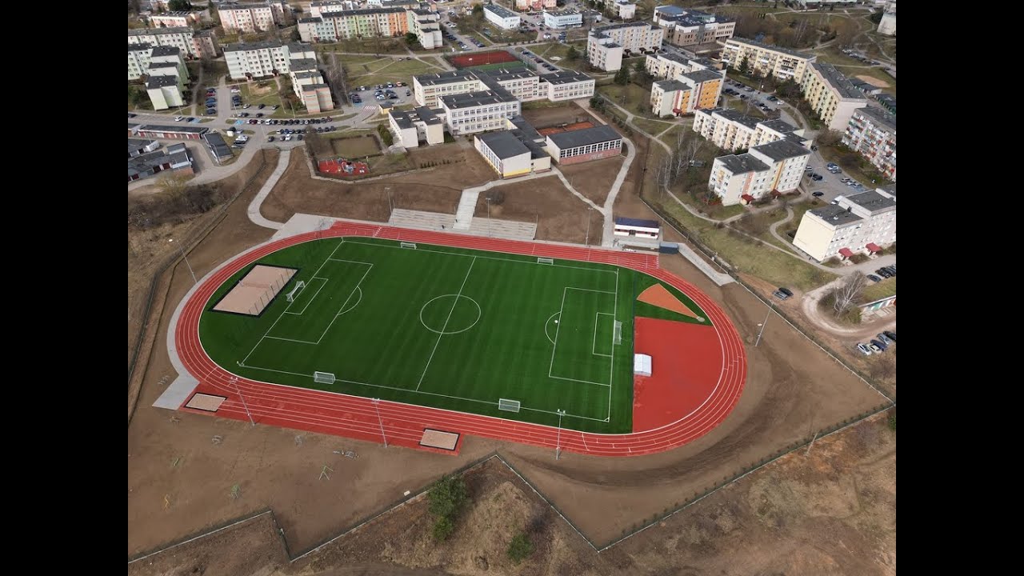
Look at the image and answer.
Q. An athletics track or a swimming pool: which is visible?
athletics track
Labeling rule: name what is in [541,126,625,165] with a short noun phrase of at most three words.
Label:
building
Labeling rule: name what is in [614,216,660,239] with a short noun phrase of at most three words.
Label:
building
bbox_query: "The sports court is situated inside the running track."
[210,264,299,318]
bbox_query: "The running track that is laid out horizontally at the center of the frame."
[176,227,746,455]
